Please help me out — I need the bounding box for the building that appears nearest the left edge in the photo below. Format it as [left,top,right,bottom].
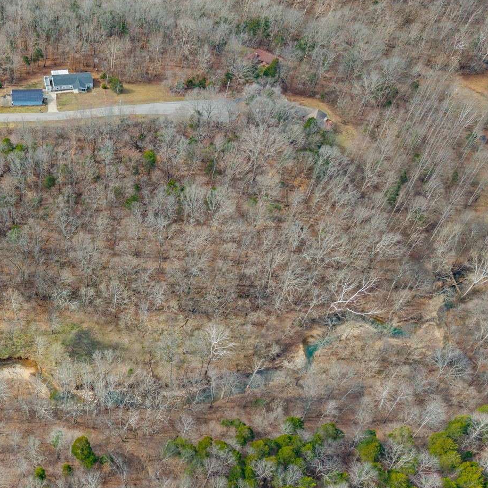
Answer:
[13,88,44,111]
